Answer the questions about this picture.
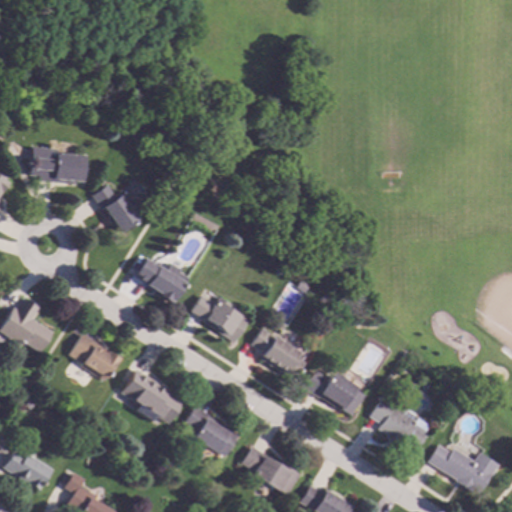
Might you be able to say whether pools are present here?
Yes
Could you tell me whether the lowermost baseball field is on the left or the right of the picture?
right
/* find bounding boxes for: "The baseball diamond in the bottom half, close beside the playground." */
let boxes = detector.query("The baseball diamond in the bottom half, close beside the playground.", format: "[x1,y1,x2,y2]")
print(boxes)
[476,272,512,349]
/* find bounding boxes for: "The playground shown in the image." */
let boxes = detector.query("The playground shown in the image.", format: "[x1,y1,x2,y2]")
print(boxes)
[431,310,480,364]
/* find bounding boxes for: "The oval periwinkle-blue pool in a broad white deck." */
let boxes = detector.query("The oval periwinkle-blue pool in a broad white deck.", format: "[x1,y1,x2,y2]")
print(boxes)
[156,230,207,268]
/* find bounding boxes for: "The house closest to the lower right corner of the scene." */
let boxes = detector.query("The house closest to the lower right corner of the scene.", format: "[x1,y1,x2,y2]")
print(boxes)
[428,442,502,491]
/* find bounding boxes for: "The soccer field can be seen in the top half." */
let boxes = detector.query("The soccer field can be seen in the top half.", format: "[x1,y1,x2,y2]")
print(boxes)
[330,0,512,258]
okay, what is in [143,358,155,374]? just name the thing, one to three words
vehicle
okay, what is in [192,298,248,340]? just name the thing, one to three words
house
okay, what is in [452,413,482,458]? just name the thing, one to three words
swimming pool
